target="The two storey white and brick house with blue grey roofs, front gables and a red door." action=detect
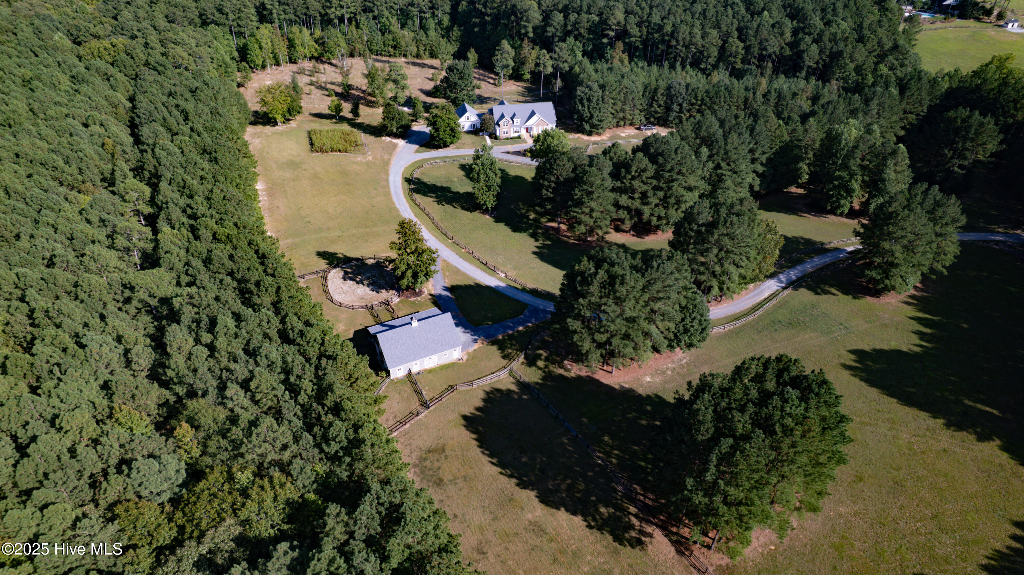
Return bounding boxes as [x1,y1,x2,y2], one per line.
[456,99,556,139]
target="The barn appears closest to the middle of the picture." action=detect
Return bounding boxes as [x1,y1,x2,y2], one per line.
[366,309,463,380]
